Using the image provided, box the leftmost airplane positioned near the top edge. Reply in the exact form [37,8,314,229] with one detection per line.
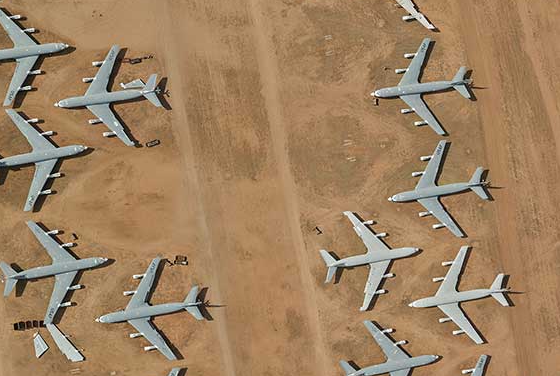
[0,9,69,106]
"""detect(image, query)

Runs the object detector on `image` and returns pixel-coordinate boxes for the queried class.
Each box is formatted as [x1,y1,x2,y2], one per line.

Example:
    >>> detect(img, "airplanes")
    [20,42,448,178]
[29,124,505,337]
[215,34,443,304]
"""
[96,258,210,360]
[371,38,472,135]
[320,212,419,311]
[0,108,88,211]
[54,45,164,146]
[409,246,513,344]
[0,9,69,106]
[0,221,107,324]
[392,0,433,29]
[340,320,438,376]
[389,140,491,237]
